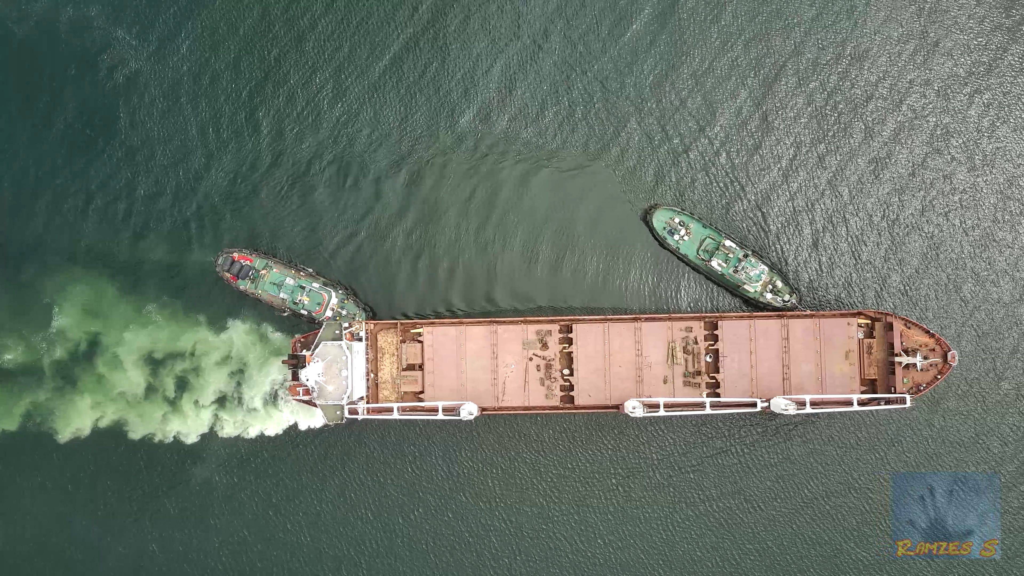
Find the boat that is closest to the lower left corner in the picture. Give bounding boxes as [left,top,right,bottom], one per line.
[287,384,305,397]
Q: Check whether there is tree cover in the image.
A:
No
